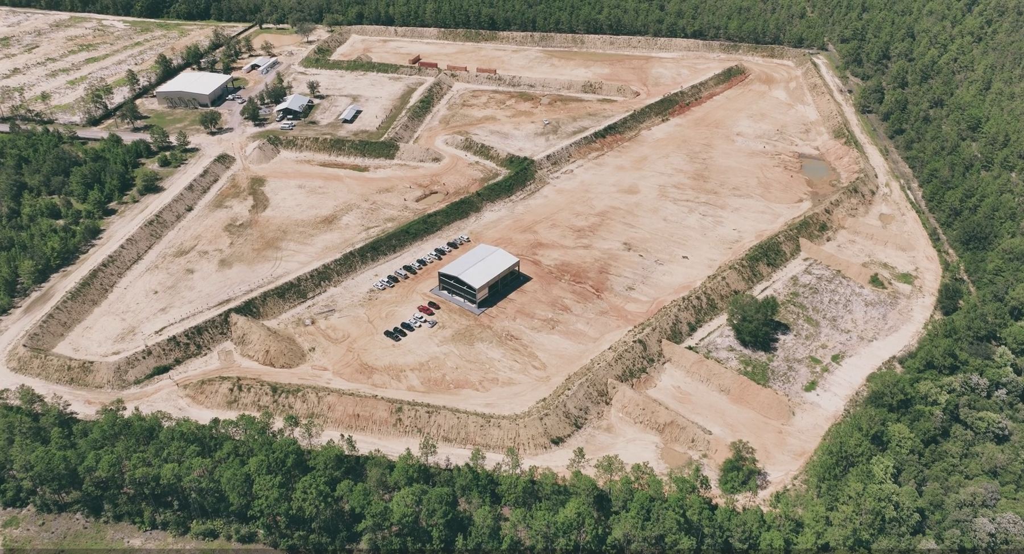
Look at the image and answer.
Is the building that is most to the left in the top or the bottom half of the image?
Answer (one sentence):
The building that is most to the left sits in the top half of the picture.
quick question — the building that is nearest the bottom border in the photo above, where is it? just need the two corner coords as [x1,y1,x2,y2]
[427,244,532,318]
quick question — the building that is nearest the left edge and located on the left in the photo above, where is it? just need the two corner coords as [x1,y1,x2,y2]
[151,70,248,107]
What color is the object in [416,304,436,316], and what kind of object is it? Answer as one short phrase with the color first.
red vehicle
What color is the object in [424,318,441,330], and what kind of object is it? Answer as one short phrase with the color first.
gray vehicle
